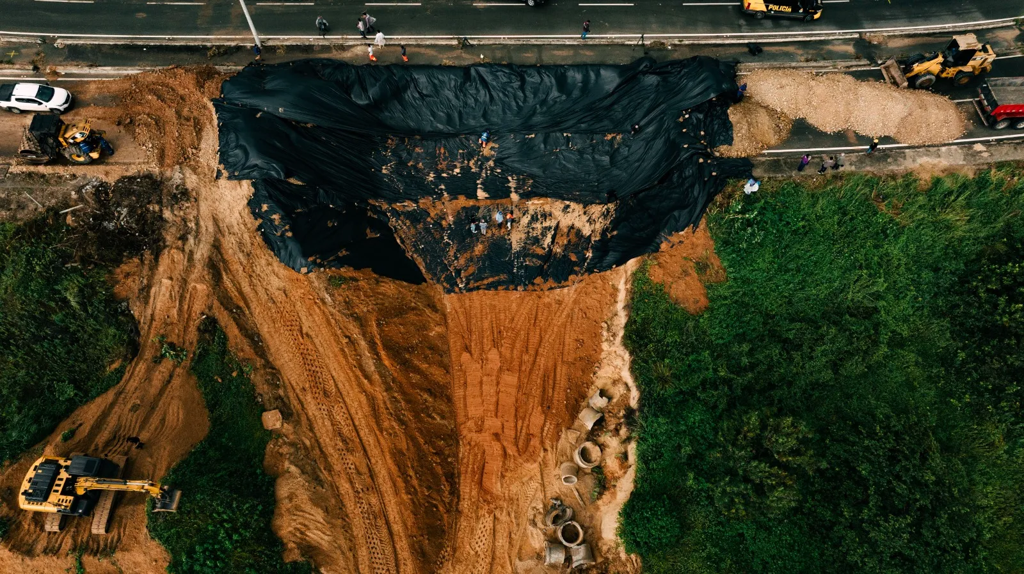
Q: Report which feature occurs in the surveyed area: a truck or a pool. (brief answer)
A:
truck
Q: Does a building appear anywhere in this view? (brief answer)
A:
No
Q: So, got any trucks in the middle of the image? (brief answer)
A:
No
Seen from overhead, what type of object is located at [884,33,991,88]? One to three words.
work vehicle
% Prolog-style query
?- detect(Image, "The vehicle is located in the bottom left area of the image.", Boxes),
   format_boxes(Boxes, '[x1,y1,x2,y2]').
[17,449,186,545]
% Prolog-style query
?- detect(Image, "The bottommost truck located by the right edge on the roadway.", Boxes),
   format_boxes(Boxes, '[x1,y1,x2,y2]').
[965,81,1024,128]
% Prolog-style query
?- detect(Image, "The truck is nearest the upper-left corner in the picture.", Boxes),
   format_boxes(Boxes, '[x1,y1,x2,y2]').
[0,79,75,115]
